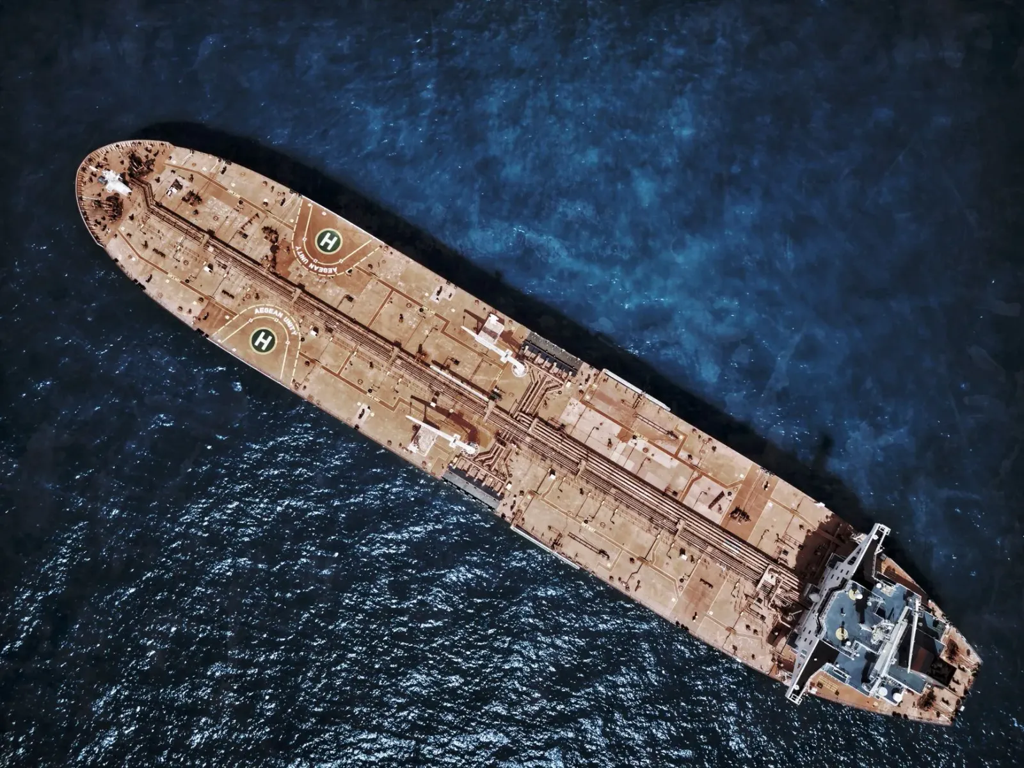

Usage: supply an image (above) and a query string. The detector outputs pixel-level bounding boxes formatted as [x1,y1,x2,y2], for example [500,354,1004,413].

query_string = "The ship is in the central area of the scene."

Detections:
[76,140,984,725]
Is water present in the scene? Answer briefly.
Yes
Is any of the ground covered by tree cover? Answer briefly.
No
